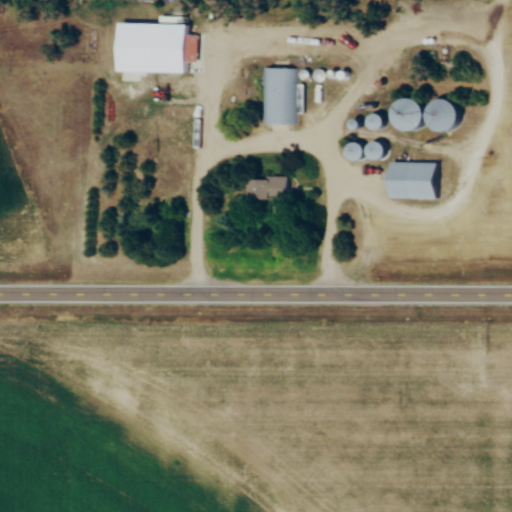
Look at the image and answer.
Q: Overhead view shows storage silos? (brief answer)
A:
Yes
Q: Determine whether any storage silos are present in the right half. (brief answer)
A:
Yes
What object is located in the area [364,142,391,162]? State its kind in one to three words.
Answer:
silo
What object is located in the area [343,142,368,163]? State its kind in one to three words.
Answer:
silo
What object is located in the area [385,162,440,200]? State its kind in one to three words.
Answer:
barn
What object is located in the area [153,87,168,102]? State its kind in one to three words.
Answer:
work vehicle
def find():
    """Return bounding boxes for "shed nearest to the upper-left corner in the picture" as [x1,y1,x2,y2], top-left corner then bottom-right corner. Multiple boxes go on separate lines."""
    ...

[113,22,190,74]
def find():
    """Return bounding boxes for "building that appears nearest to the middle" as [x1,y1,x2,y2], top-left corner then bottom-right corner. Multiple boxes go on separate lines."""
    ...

[245,177,290,202]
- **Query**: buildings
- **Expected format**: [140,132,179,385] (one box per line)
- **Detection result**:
[264,68,301,124]
[113,22,190,74]
[245,177,290,202]
[385,162,440,200]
